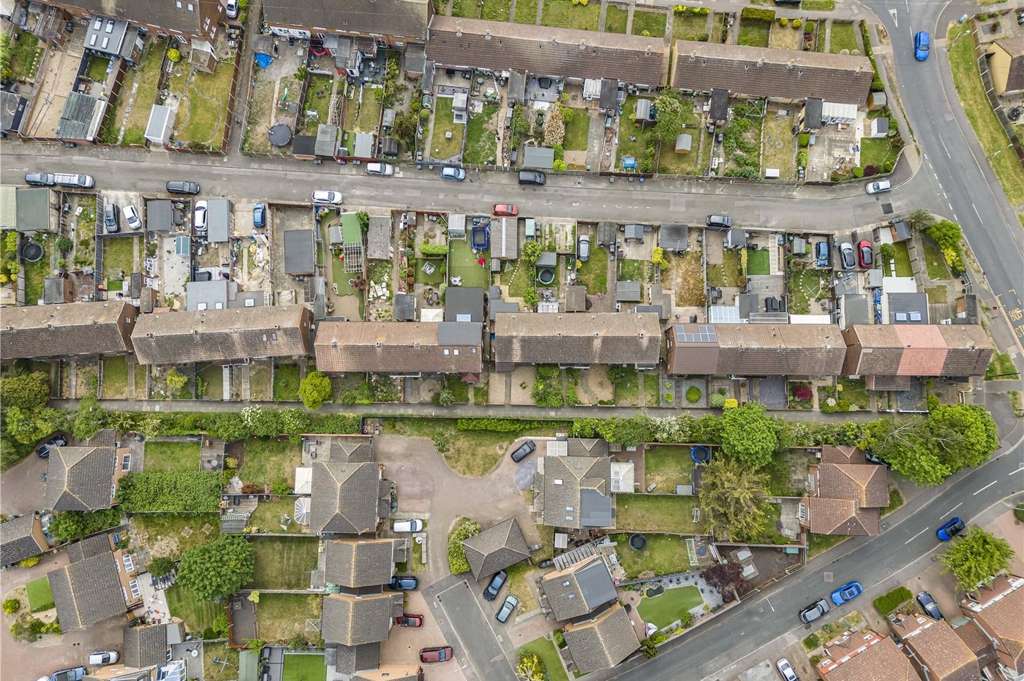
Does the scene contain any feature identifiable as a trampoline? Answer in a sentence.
Yes, the frame does contain a trampoline.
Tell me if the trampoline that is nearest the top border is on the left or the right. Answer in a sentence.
The trampoline that is nearest the top border is on the left side of the image.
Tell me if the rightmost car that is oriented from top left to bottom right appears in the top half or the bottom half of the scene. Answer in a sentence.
The rightmost car that is oriented from top left to bottom right is in the bottom half of the image.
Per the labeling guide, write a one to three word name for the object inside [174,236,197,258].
shed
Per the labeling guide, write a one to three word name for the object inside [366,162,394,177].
car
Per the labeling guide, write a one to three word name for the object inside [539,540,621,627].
house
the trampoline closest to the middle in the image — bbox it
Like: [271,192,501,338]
[538,268,555,284]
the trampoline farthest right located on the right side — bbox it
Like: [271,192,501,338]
[689,446,710,464]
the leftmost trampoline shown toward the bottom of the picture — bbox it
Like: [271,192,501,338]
[628,534,650,555]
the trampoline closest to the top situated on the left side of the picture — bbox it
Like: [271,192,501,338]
[269,123,293,146]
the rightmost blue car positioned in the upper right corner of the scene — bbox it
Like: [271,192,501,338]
[912,32,928,60]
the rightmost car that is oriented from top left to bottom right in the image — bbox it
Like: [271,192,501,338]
[915,588,942,620]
